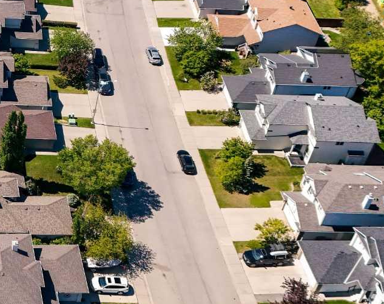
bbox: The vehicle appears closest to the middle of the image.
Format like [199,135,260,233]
[176,148,196,176]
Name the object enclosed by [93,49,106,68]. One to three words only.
vehicle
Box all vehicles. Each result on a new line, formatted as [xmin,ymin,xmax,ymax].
[245,246,288,265]
[97,73,111,94]
[91,274,132,294]
[93,49,106,68]
[176,148,196,176]
[146,46,161,66]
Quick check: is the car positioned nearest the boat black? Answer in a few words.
No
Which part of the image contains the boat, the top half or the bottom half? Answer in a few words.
bottom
